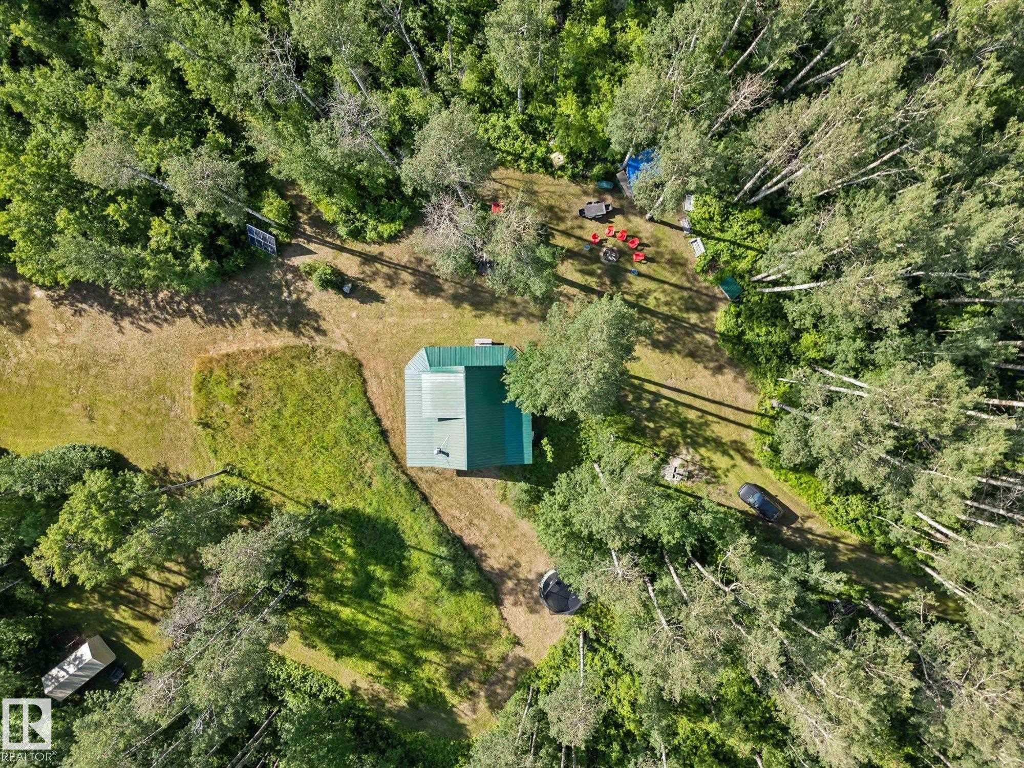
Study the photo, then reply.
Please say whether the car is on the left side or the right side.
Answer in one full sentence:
The car is on the right side of the image.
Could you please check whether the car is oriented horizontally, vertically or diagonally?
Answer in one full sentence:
In this picture, the car is oriented diagonally.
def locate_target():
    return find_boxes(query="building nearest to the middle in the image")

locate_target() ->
[405,346,532,470]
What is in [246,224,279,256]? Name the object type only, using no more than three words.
solar panel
